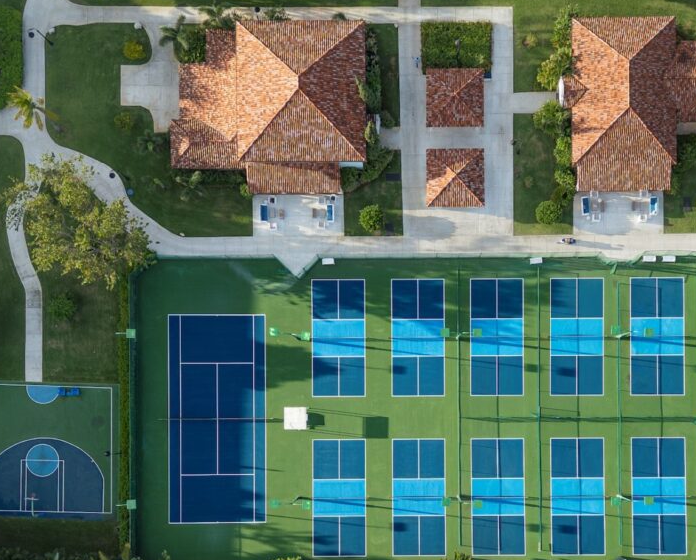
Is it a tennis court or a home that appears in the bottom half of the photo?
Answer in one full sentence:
The one visible in the bottom half of the photo is a tennis court.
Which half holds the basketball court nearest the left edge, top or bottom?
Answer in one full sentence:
It is in the bottom half that the basketball court nearest the left edge appears.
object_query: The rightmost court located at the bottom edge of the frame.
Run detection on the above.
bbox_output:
[629,437,693,556]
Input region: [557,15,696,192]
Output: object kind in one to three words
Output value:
house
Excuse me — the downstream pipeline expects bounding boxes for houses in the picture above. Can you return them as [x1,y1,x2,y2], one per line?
[557,15,696,192]
[170,19,380,195]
